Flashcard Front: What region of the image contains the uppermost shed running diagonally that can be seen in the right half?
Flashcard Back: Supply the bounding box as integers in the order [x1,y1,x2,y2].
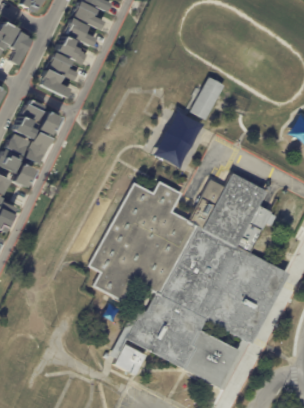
[191,77,223,118]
